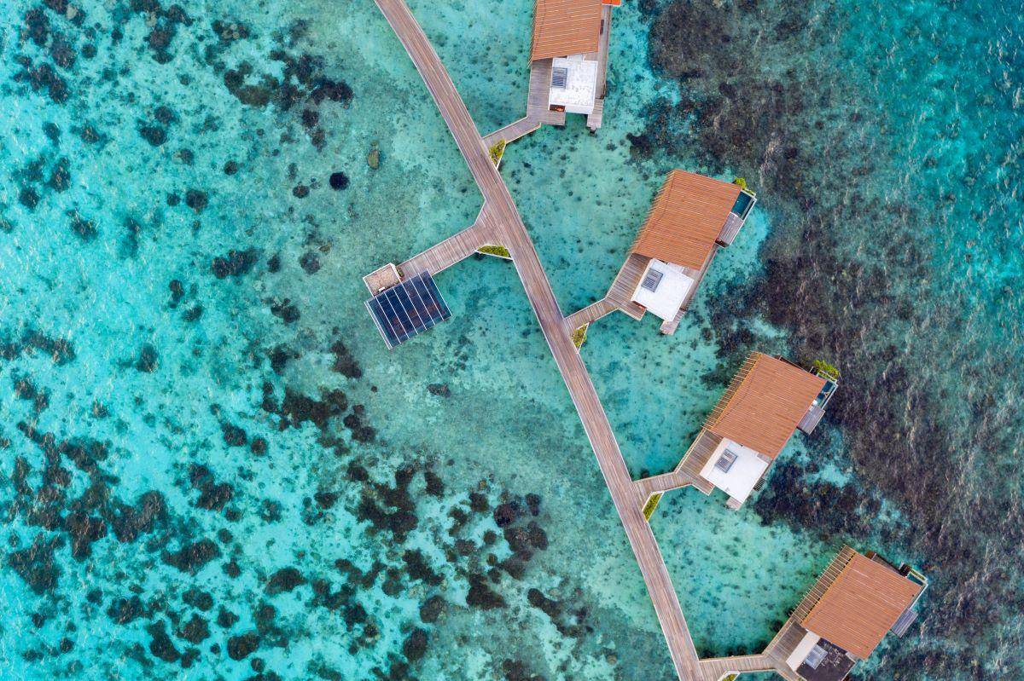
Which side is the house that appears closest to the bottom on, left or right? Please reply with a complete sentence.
You can find the house that appears closest to the bottom on the right side of the picture.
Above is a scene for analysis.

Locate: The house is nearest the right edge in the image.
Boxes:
[756,543,928,681]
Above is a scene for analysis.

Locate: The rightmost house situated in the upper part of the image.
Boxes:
[605,171,757,337]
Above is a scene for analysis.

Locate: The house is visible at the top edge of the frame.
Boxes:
[525,0,612,140]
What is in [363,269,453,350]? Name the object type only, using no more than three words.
building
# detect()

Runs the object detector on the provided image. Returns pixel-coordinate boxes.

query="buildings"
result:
[756,543,928,681]
[525,0,612,140]
[363,269,453,350]
[605,171,757,337]
[673,351,836,509]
